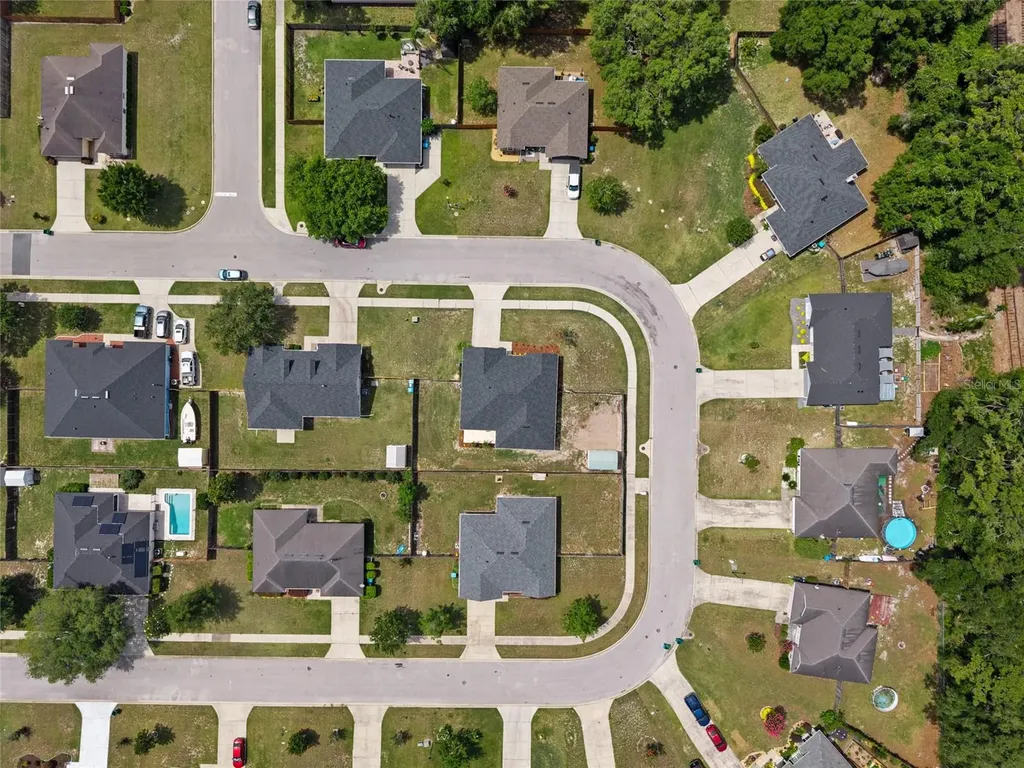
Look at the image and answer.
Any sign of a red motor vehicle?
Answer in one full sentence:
Yes, the frame does contain a red motor vehicle.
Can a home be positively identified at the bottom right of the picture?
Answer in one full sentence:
Yes, a home can be seen at the bottom right of the picture.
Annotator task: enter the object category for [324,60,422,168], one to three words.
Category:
house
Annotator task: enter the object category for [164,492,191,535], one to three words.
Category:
swimming pool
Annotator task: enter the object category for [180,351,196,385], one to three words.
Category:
vehicle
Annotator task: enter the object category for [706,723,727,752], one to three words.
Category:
car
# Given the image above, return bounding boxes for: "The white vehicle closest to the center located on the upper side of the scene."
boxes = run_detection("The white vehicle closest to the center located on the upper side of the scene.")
[567,163,580,199]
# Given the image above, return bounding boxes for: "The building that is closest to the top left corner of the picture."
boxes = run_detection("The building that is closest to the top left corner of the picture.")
[40,43,129,158]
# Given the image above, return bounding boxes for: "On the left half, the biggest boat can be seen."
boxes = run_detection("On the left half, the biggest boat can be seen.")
[181,396,198,442]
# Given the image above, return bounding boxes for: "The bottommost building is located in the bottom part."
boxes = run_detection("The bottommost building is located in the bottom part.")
[774,727,849,768]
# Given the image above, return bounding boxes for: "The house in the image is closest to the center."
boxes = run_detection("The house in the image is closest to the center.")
[460,347,559,449]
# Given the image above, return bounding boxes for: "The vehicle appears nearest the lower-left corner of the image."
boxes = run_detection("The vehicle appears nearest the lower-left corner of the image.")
[233,737,247,767]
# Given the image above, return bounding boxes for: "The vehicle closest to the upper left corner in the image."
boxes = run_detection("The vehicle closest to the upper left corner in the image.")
[247,1,261,30]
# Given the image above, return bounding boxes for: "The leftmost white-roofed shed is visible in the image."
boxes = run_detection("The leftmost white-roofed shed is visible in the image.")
[4,468,41,486]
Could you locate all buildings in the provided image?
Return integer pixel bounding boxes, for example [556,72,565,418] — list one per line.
[460,347,559,449]
[53,492,155,595]
[243,344,362,430]
[4,468,41,486]
[774,727,849,768]
[459,497,557,601]
[178,447,209,467]
[755,114,869,257]
[803,292,893,406]
[890,233,918,253]
[40,43,129,158]
[496,66,589,164]
[324,60,422,168]
[587,450,618,470]
[787,581,878,683]
[252,509,365,597]
[386,444,408,468]
[45,340,171,439]
[903,426,923,436]
[790,447,898,540]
